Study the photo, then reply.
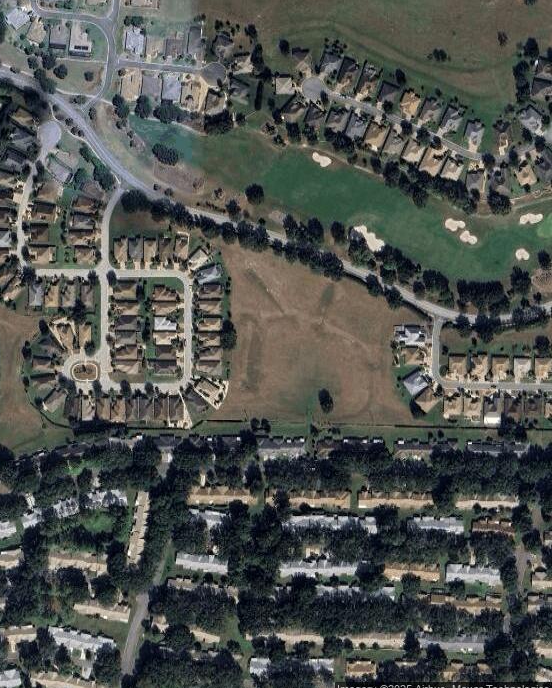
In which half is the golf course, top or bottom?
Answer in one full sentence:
The golf course is in the top half of the image.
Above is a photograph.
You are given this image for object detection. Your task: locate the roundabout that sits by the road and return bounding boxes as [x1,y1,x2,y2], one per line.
[63,354,108,389]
